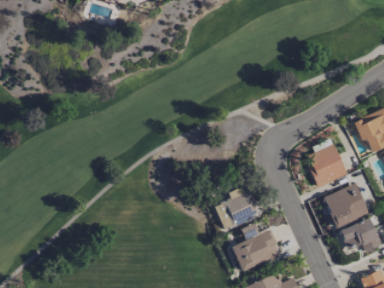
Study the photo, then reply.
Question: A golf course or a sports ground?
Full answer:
This image shows a golf course.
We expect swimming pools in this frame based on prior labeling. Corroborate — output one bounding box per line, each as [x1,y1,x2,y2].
[374,160,384,178]
[89,4,111,18]
[352,132,368,153]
